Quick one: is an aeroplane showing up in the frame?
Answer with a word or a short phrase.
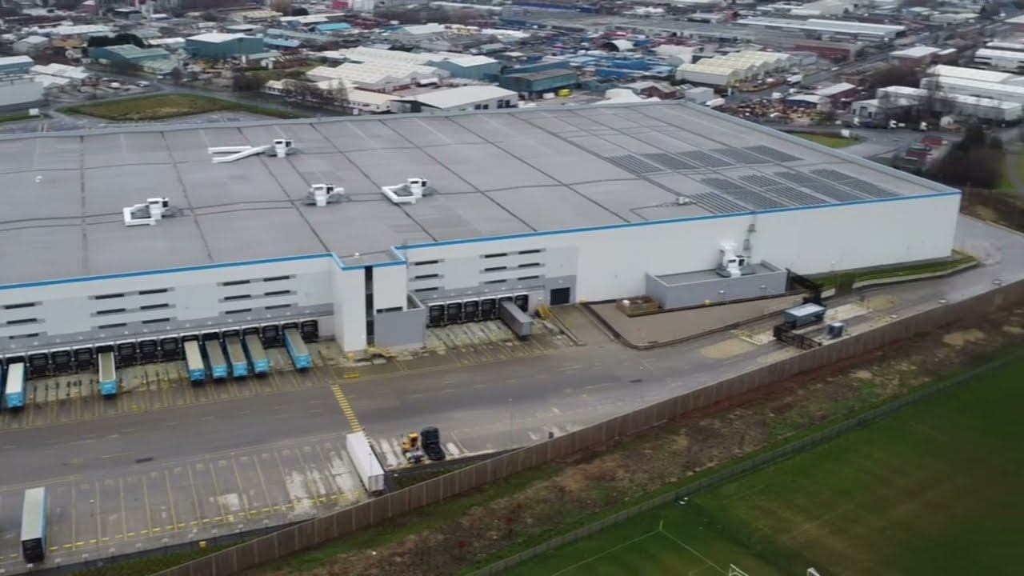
No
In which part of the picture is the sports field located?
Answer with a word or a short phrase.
bottom right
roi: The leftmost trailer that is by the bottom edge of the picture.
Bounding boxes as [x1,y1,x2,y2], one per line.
[21,486,48,561]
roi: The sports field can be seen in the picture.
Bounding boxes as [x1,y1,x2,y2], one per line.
[485,360,1024,576]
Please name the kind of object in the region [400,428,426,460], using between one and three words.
work vehicle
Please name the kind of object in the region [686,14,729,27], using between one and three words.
shed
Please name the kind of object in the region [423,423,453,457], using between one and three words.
truck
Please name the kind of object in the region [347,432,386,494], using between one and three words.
trailer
